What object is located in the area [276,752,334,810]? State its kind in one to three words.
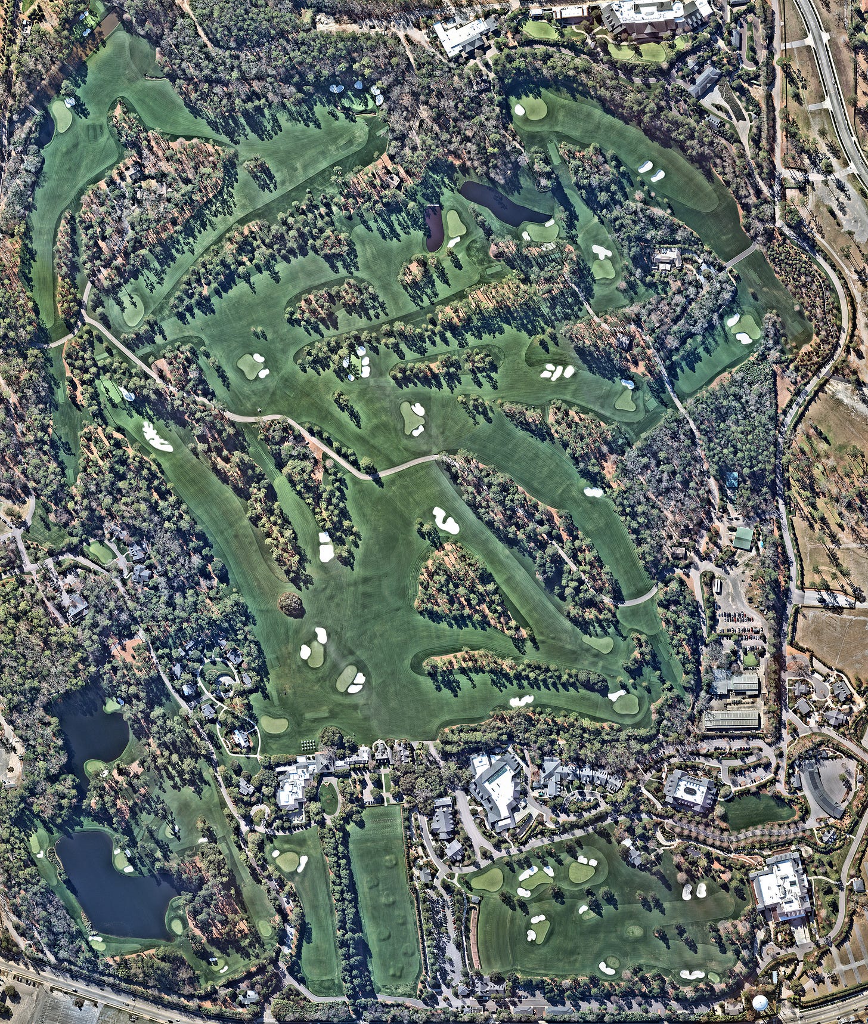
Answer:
building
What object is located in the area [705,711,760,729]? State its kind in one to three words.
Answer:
shed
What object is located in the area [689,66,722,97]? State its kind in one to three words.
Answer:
building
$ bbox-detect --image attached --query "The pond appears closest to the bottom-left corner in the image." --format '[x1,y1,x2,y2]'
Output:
[55,831,181,942]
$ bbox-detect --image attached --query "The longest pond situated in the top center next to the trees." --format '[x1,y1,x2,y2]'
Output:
[460,181,553,228]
